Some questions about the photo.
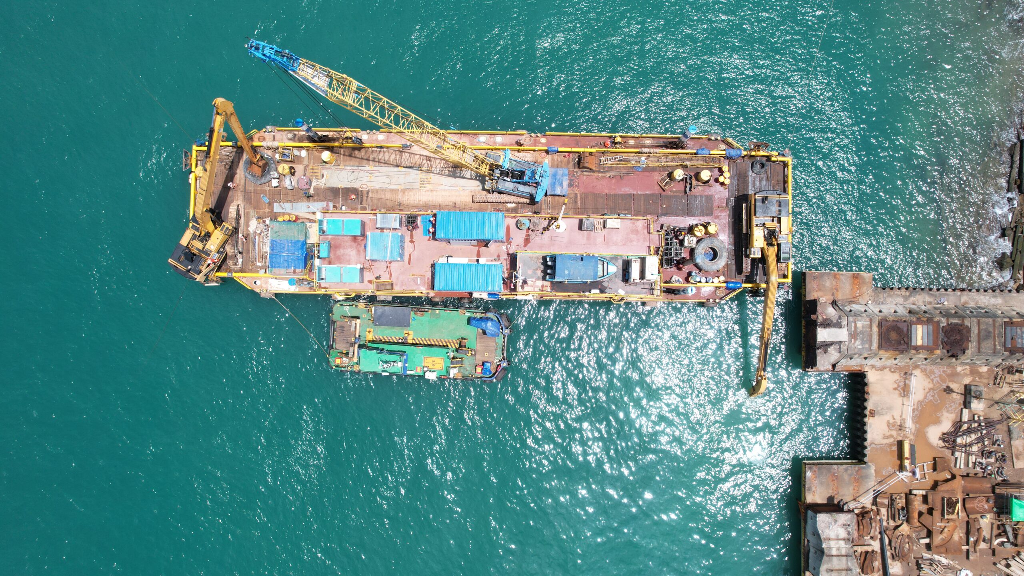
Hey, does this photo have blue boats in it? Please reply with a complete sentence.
Yes, a blue boat can be made out from above.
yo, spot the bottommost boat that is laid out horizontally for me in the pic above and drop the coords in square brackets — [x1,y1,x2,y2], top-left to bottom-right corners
[326,299,513,387]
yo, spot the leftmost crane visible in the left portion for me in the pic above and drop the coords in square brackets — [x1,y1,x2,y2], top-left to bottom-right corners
[241,38,546,205]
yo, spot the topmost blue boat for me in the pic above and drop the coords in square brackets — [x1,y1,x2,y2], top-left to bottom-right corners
[546,255,621,284]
